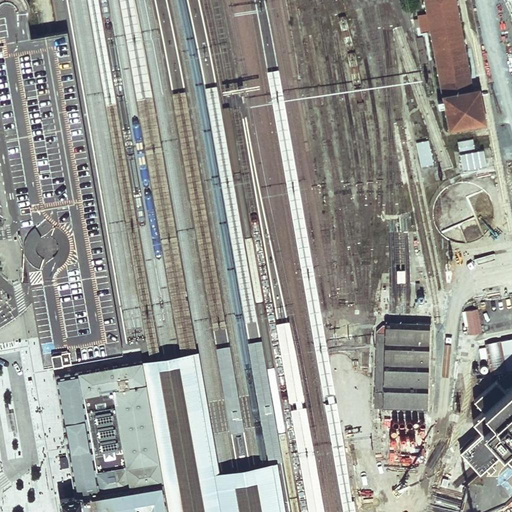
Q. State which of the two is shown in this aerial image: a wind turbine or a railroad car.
railroad car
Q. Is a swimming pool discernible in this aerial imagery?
No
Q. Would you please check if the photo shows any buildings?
Yes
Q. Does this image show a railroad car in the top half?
Yes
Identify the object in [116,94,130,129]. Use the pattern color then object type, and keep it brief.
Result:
gray rail car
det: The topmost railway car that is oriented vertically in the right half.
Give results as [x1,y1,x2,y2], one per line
[340,14,354,48]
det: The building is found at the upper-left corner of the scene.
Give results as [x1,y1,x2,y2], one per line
[28,19,68,40]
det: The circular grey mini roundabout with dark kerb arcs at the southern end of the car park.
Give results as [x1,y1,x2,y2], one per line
[24,224,70,270]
